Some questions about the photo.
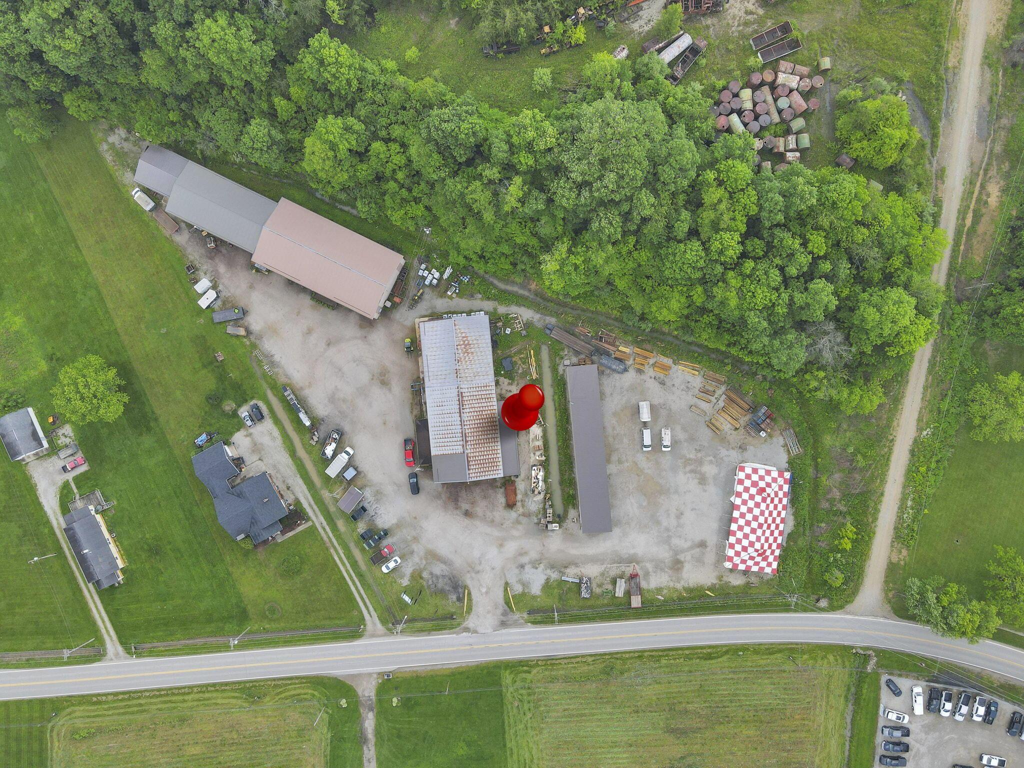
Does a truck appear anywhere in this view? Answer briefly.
Yes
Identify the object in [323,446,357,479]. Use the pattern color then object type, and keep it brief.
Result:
white truck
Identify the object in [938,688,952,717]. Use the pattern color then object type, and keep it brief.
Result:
white vehicle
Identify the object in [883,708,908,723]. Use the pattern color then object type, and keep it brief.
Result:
white car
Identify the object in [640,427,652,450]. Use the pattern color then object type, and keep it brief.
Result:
white vehicle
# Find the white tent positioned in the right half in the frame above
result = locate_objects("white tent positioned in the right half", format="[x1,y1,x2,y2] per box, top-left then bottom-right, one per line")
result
[716,458,790,578]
